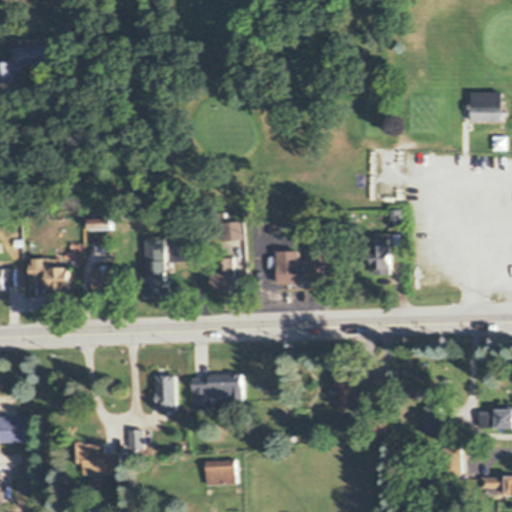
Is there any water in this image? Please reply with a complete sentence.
No, the scene doesn't show any water.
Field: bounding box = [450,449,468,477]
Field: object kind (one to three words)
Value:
house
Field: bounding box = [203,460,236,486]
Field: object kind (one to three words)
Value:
barn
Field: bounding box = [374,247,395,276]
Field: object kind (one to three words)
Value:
house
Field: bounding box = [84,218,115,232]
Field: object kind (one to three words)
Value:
building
